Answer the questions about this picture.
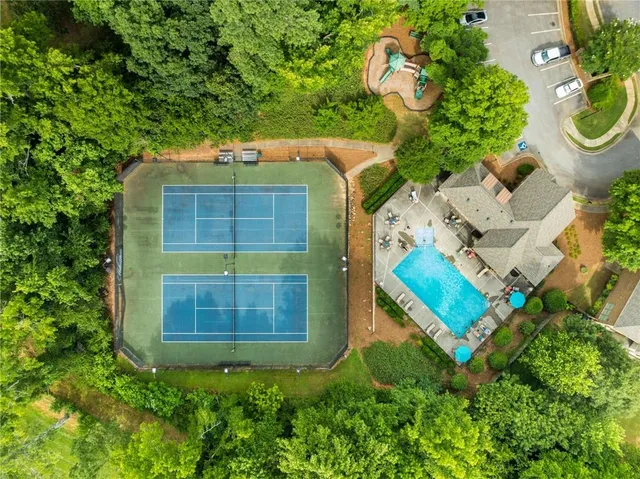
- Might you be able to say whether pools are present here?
Yes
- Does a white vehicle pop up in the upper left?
No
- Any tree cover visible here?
Yes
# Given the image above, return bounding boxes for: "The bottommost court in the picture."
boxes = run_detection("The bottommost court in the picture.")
[122,263,346,366]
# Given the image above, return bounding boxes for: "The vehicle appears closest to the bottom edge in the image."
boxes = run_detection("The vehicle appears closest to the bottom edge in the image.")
[553,78,584,99]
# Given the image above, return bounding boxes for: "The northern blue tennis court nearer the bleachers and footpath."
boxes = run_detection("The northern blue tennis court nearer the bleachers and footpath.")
[122,163,346,263]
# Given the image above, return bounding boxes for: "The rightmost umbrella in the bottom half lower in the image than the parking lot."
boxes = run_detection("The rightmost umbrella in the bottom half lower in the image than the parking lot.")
[509,291,525,307]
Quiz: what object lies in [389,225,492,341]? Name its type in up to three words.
swimming pool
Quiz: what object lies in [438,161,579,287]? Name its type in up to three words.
building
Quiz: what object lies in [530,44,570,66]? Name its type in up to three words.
truck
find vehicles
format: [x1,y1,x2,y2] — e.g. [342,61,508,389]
[530,44,570,66]
[553,78,584,99]
[458,11,486,26]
